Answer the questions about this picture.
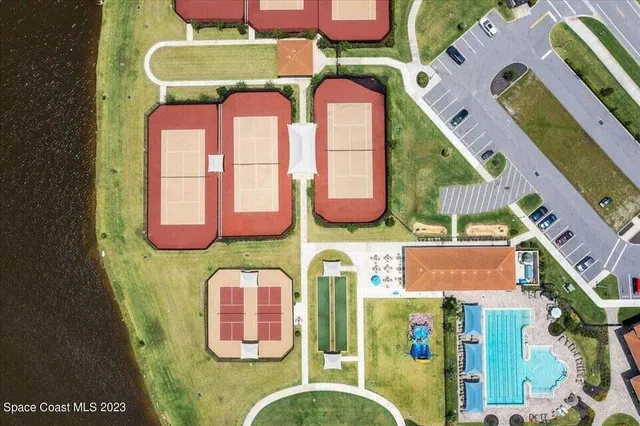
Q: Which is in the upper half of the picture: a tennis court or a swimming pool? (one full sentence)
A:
The feature located in the upper half of the picture is a tennis court.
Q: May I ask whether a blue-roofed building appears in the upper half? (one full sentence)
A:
No, looking in the upper half, there is no blue-roofed building.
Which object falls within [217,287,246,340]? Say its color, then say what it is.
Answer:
red sports court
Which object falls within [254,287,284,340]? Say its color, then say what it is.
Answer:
red sports court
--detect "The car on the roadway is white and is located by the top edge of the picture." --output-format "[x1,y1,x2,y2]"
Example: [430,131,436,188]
[481,18,498,37]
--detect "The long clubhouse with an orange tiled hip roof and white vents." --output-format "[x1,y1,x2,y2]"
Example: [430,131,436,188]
[405,246,516,291]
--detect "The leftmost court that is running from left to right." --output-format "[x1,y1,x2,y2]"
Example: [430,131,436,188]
[176,0,244,22]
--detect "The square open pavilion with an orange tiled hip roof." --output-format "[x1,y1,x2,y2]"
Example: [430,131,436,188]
[278,39,313,76]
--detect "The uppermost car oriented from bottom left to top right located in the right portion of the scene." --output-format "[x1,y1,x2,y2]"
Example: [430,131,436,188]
[451,110,468,126]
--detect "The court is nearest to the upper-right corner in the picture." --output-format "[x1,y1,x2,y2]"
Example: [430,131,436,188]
[319,0,390,40]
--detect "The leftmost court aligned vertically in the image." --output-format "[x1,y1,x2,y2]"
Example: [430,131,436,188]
[149,104,218,248]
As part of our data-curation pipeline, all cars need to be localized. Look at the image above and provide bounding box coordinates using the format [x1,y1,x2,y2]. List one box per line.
[481,18,498,37]
[633,277,640,295]
[576,255,594,272]
[451,110,468,126]
[529,205,548,222]
[538,213,556,230]
[448,46,464,64]
[598,195,613,208]
[556,230,574,246]
[480,148,494,162]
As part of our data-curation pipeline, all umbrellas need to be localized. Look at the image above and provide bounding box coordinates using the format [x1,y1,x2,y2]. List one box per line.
[549,307,561,318]
[371,275,381,285]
